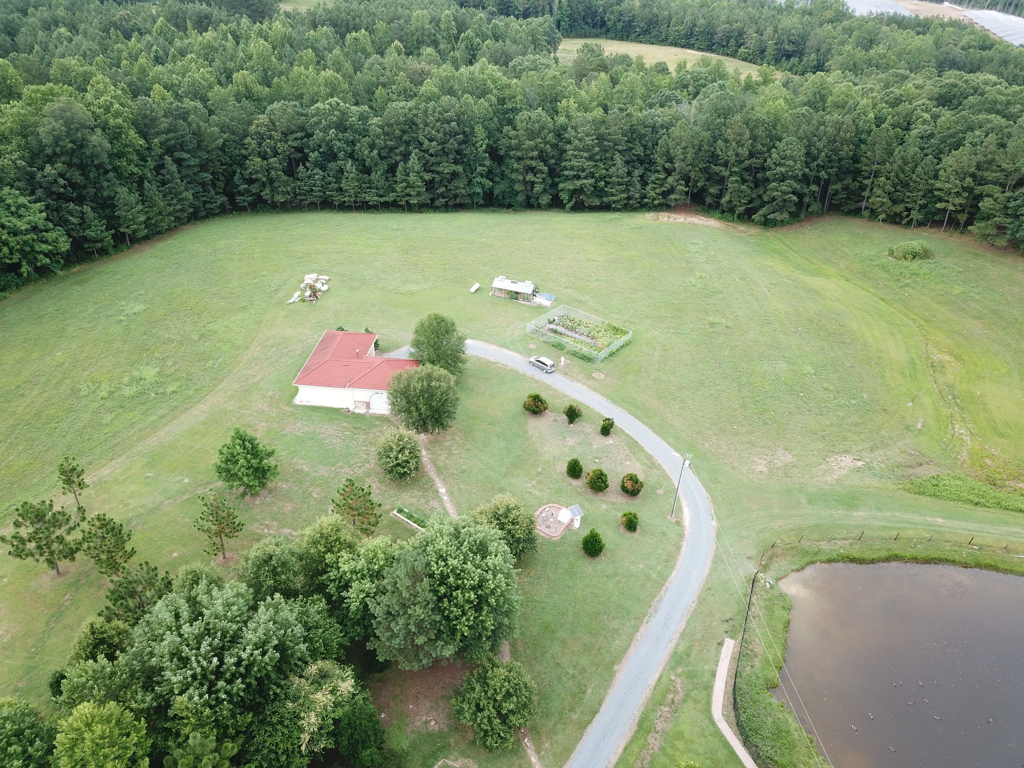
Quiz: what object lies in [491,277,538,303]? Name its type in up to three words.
greenhouse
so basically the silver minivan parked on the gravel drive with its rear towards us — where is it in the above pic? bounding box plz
[528,353,557,371]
